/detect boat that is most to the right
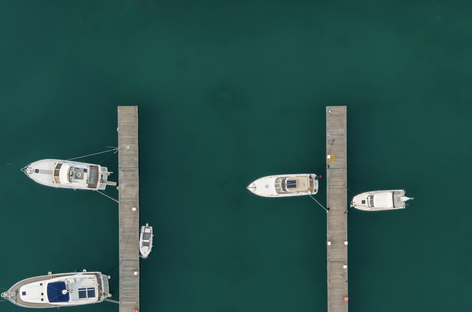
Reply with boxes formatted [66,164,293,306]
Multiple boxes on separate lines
[346,187,414,212]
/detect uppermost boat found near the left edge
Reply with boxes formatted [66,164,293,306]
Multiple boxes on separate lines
[22,148,119,202]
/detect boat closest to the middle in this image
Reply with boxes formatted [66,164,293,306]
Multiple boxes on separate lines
[248,174,327,211]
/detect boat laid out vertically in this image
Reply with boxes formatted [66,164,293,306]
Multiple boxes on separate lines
[139,222,153,258]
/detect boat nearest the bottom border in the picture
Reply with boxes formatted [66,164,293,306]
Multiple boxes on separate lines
[1,265,119,308]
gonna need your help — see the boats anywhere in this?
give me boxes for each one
[1,265,119,308]
[248,174,327,211]
[22,148,119,202]
[139,222,153,258]
[346,187,414,212]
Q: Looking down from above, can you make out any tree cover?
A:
No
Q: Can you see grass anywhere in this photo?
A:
No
